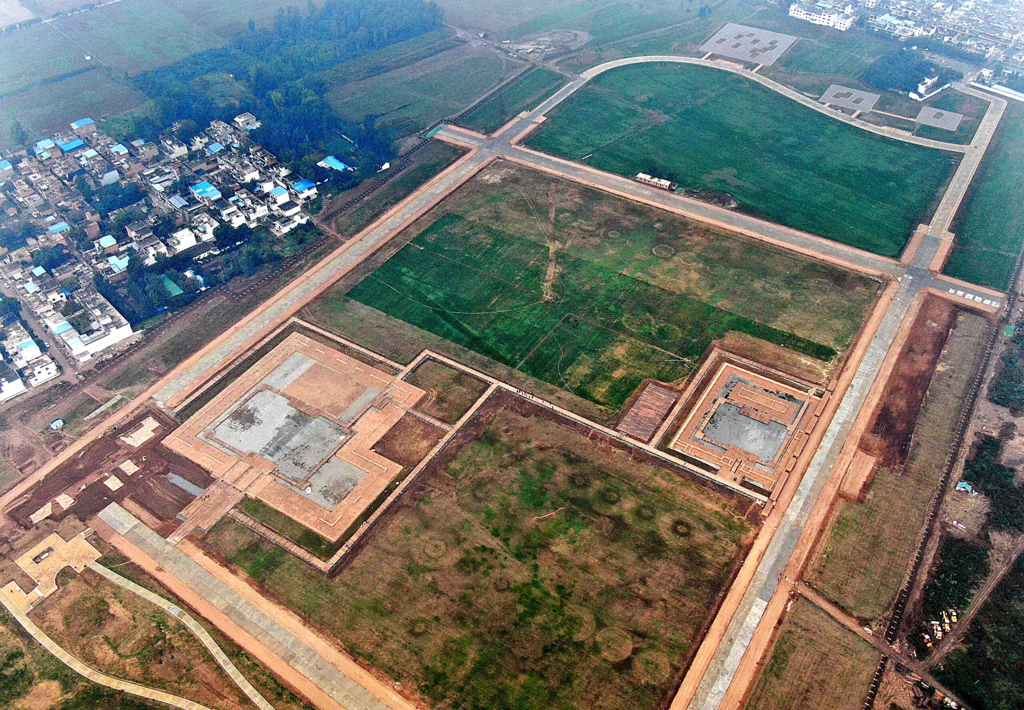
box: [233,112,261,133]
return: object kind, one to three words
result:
house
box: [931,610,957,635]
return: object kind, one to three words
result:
work vehicle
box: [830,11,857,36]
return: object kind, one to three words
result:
house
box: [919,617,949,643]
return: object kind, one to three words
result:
work vehicle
